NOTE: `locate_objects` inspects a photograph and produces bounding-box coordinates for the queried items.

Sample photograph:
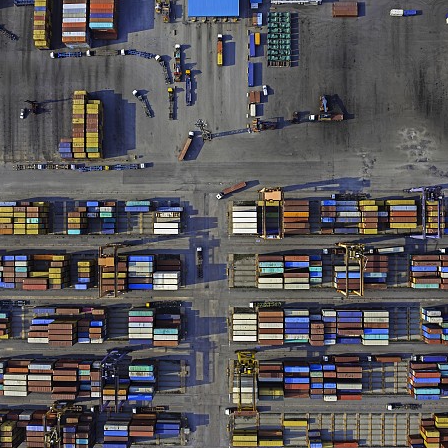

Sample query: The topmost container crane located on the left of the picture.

[99,244,132,298]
